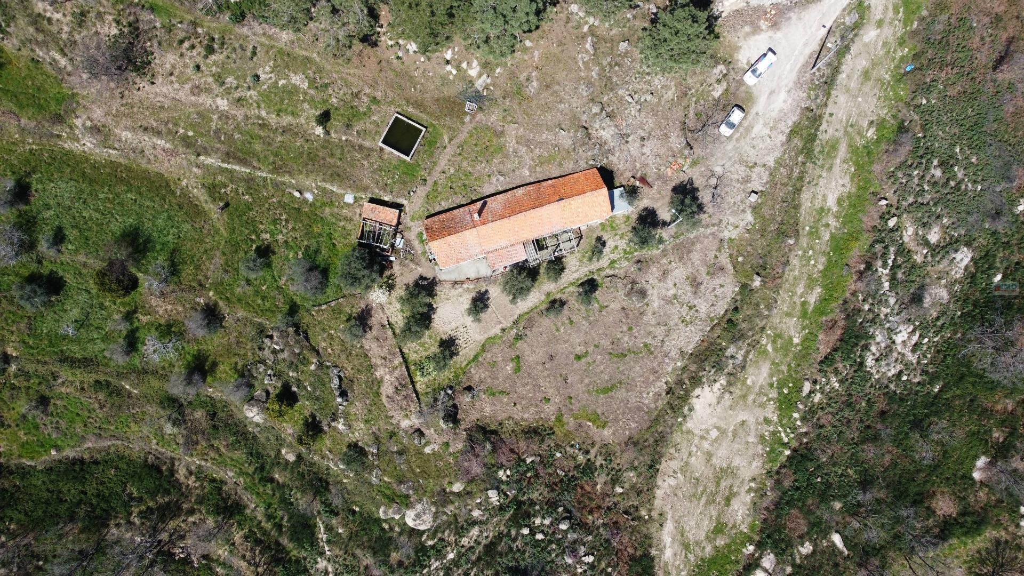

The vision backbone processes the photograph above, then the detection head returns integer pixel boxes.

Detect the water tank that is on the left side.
[379,113,427,162]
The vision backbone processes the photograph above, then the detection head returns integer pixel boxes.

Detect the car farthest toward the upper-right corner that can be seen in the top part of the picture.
[740,45,782,88]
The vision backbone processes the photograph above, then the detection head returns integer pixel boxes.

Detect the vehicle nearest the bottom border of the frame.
[716,102,747,139]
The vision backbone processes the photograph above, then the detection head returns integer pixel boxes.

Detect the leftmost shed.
[362,202,399,227]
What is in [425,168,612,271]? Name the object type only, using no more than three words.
house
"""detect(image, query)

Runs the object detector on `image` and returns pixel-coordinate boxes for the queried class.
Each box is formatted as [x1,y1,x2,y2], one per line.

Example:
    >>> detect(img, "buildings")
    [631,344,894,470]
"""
[425,168,612,271]
[362,202,399,227]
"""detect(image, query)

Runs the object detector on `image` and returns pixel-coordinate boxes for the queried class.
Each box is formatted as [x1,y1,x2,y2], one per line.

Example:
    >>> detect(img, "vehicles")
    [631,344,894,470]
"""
[740,45,782,88]
[716,102,747,139]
